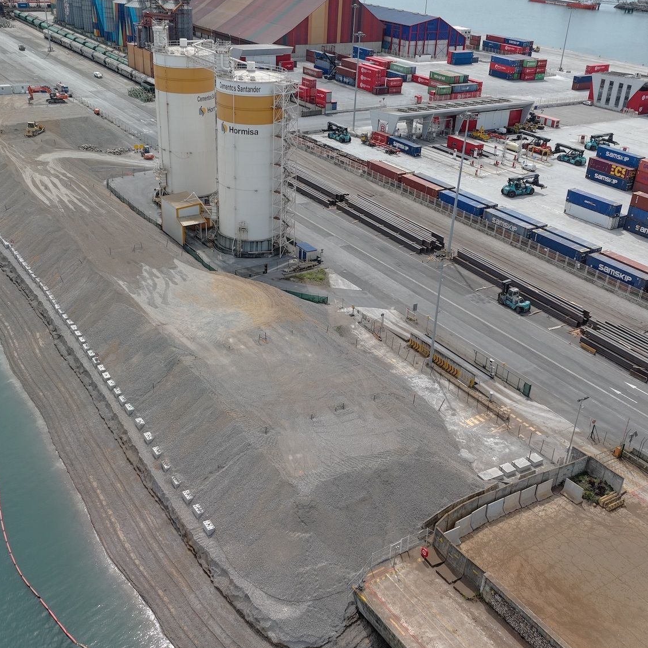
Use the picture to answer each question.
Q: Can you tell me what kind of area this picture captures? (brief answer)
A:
industrial area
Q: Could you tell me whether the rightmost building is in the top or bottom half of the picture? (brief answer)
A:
top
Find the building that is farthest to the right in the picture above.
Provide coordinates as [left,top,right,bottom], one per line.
[593,70,648,116]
